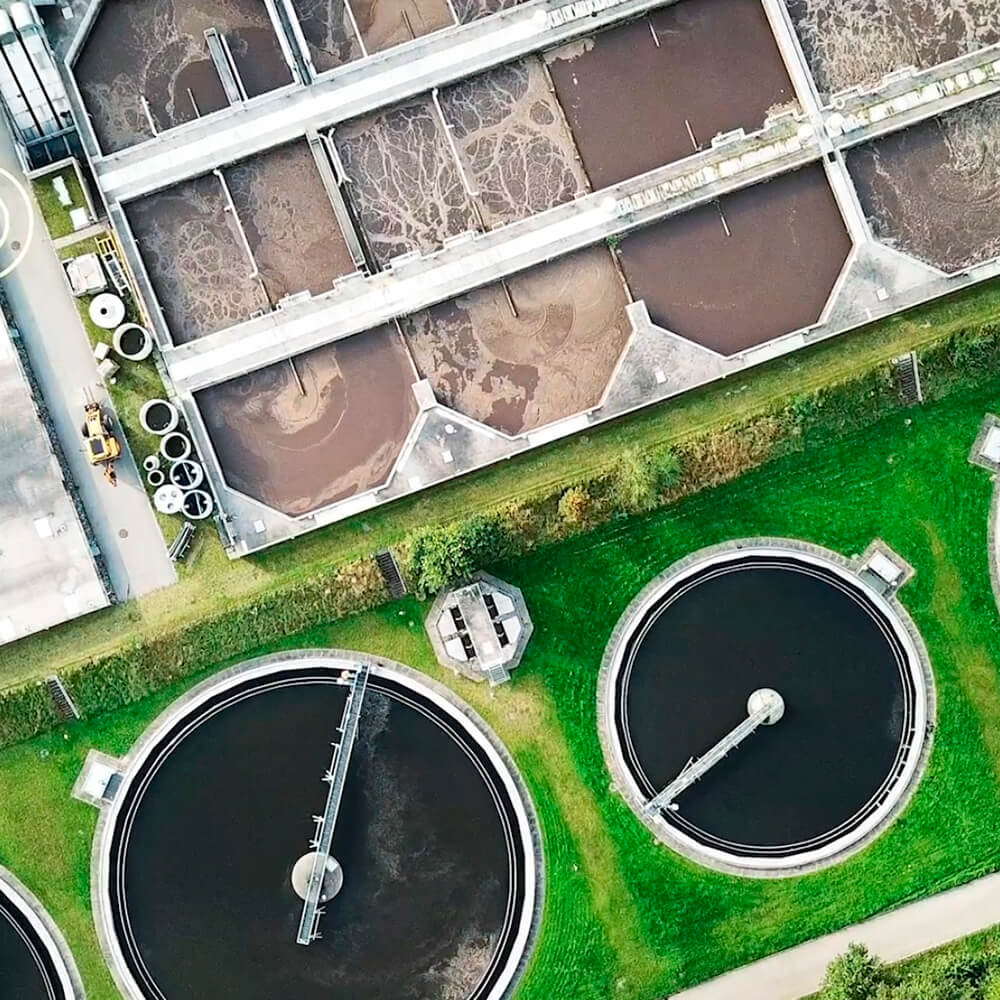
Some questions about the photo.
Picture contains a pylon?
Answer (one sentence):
No, no pylon is visible in the view.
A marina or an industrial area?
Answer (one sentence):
The area seen from above is an industrial area.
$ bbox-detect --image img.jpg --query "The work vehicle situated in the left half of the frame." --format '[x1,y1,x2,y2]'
[77,387,123,485]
